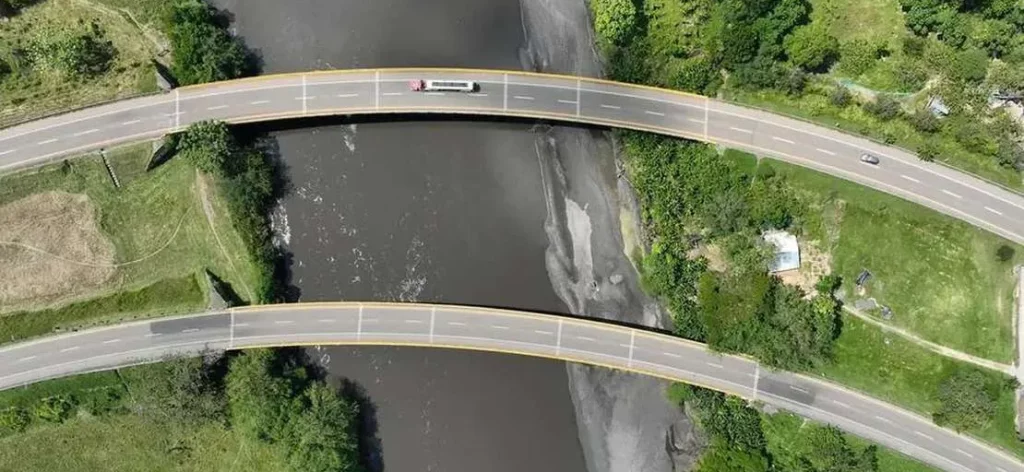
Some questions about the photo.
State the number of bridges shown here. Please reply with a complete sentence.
In total, 2 bridges can be seen.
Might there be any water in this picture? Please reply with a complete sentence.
Yes, there's water in this view.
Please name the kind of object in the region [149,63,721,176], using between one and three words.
bridge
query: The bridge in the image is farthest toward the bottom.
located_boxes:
[206,273,781,418]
